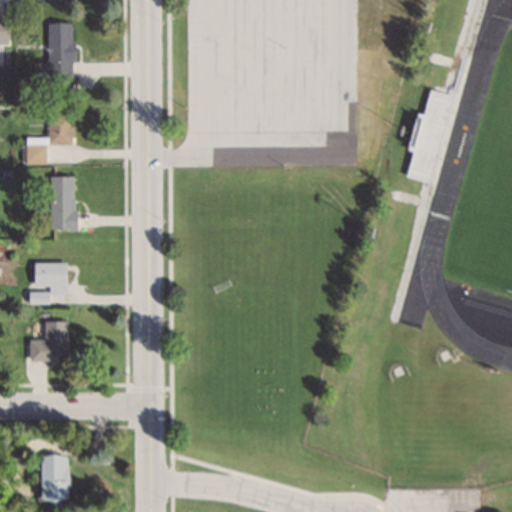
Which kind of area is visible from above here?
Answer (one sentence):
The area seen from above is a sports ground.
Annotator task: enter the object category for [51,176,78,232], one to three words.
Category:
house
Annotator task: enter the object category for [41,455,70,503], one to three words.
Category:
house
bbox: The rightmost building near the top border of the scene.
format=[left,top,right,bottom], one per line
[47,22,76,78]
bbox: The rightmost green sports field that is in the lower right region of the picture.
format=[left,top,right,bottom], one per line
[382,330,512,487]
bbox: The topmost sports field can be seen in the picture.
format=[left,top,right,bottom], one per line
[444,26,512,298]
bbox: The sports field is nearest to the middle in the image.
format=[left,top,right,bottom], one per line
[174,168,378,488]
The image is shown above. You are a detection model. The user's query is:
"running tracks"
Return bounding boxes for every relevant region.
[402,0,512,370]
